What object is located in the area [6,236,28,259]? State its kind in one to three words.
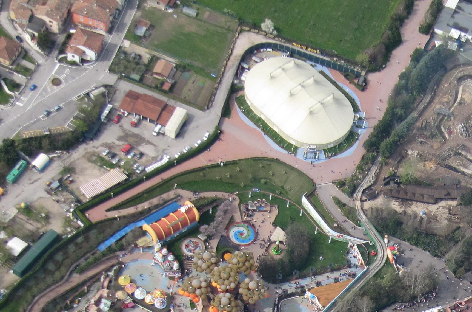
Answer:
shed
